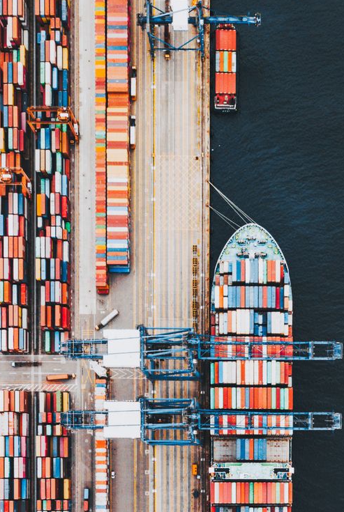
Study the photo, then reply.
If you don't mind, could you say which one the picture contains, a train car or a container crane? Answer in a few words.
container crane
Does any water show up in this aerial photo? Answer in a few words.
Yes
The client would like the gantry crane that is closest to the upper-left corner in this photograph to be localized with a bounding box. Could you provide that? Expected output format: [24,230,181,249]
[27,106,78,141]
